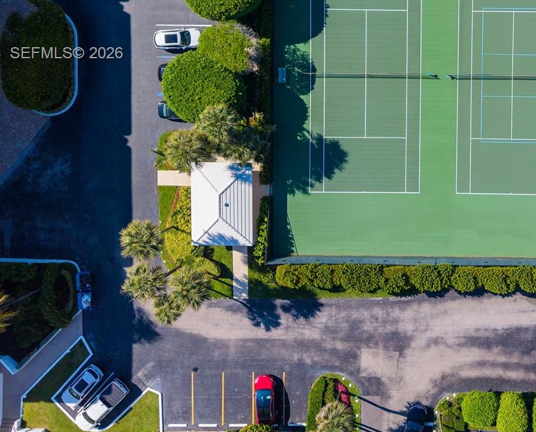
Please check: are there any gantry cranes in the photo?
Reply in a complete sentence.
No, there isn't any gantry crane down there.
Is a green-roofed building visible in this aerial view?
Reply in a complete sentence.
No, I can't see a single green-roofed building in this photo.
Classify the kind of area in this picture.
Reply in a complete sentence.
The area seen from above is a sports ground.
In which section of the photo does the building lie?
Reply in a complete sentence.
The building is located in the center region of the scene.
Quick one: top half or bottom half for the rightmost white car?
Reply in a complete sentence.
The top half of the photo is where the rightmost white car is.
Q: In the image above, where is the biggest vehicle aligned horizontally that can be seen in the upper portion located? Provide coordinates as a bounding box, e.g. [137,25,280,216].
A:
[154,28,199,50]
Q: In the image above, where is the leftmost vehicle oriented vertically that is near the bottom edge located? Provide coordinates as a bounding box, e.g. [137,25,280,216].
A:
[253,375,276,425]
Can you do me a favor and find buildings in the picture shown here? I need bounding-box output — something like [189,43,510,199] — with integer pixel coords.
[190,160,258,247]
